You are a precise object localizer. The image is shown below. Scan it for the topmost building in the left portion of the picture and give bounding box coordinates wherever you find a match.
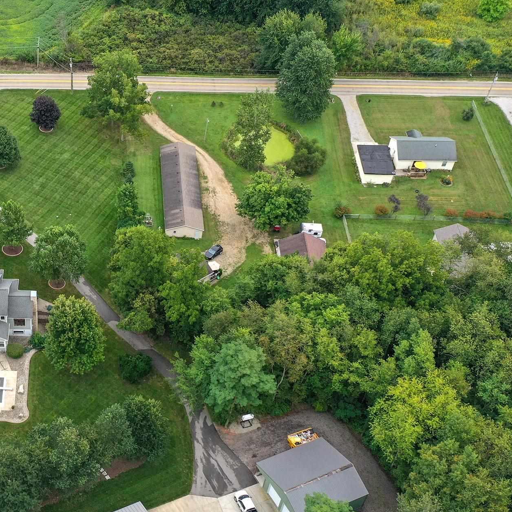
[160,139,204,240]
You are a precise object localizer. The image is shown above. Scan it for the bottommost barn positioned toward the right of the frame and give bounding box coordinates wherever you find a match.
[255,438,368,512]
